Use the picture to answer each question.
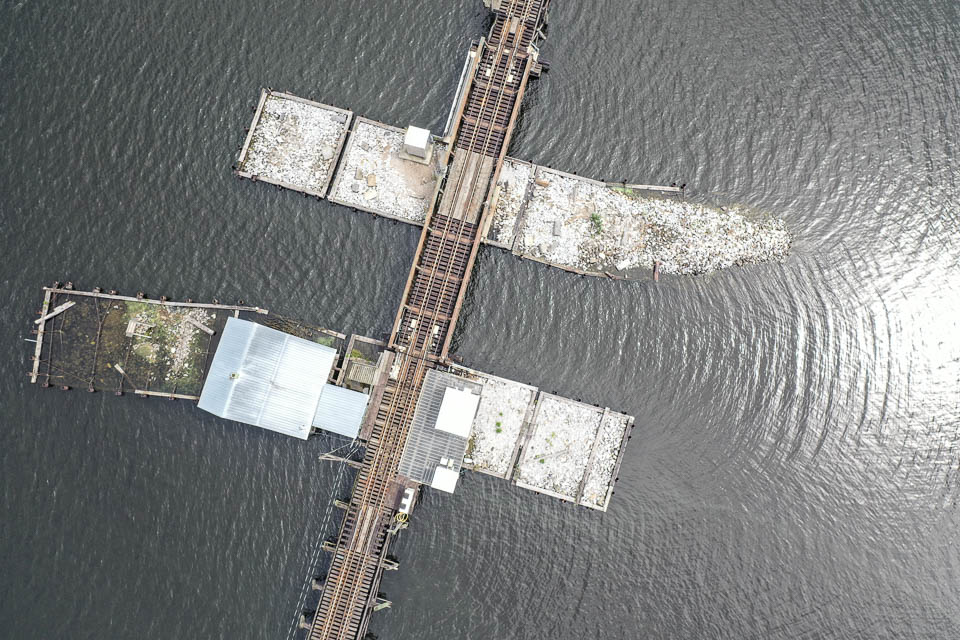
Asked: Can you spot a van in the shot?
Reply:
No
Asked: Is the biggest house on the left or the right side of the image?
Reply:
left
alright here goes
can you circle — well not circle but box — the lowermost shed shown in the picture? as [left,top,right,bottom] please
[431,461,460,493]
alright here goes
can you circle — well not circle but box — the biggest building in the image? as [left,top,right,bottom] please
[199,317,338,439]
